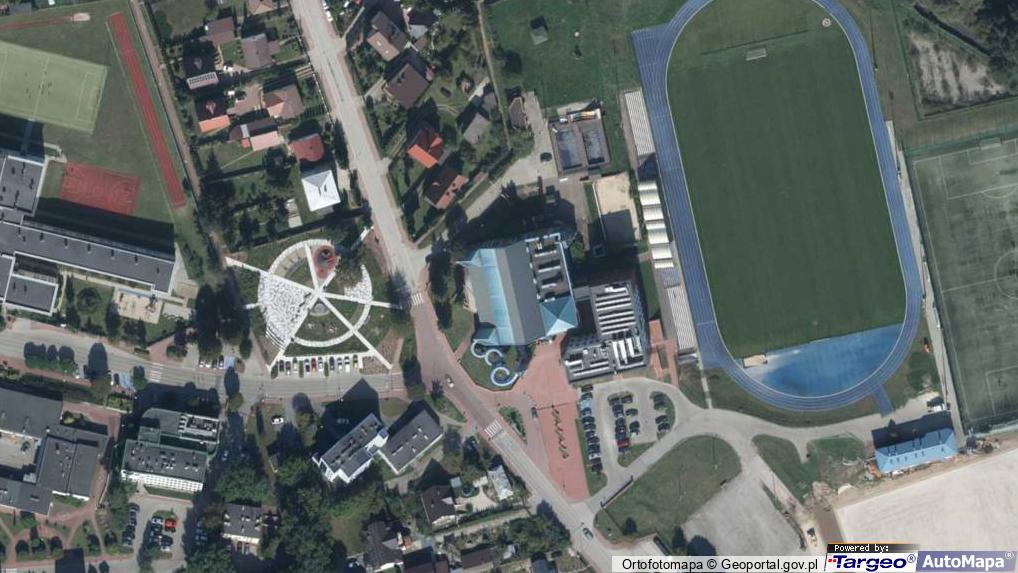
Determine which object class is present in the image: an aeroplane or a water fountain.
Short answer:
water fountain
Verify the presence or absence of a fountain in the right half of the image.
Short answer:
No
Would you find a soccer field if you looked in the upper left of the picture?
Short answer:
Yes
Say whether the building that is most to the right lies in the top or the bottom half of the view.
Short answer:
bottom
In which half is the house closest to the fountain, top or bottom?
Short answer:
top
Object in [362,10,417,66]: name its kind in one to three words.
house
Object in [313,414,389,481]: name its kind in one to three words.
building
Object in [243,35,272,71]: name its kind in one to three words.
house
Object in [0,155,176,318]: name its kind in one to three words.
building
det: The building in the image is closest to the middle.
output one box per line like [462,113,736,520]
[456,233,578,355]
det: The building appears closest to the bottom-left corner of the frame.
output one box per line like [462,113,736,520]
[0,387,110,518]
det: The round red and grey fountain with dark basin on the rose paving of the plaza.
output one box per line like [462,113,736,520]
[308,242,334,280]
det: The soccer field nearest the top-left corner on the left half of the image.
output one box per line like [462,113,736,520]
[0,40,107,133]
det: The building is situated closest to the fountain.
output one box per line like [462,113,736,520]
[301,170,341,213]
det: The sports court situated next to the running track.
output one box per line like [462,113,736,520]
[593,173,638,241]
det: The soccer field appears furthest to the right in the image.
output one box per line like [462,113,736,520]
[907,128,1018,442]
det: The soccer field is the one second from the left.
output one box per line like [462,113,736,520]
[669,34,903,358]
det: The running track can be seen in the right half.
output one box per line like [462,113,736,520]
[628,0,921,415]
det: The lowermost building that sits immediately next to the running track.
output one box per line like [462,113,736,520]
[875,428,959,476]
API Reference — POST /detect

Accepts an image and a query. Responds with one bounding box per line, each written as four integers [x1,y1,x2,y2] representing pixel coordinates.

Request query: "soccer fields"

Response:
[669,34,903,358]
[907,128,1018,442]
[0,40,107,133]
